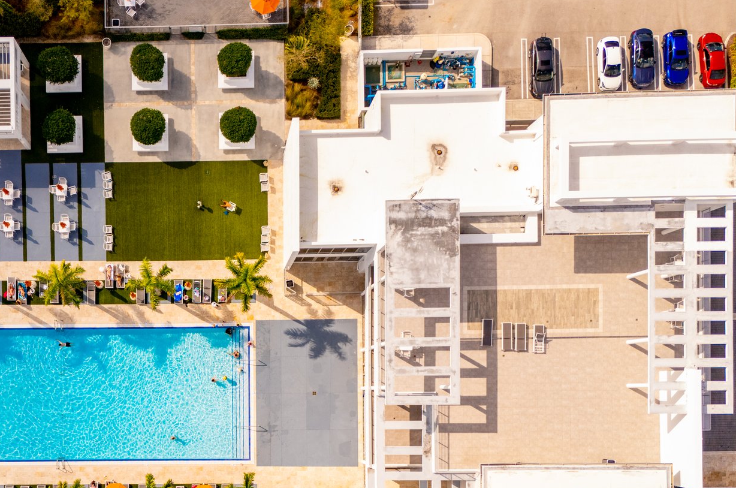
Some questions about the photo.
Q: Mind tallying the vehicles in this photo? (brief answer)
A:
5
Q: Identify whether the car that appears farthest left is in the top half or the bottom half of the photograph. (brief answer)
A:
top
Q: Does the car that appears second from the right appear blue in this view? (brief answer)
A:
Yes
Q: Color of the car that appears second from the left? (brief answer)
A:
white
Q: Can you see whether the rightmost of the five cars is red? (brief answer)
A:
Yes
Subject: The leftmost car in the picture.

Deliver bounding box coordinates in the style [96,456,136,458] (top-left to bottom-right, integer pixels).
[529,31,558,98]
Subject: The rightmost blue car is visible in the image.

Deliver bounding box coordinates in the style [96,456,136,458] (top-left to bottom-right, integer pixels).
[661,29,692,88]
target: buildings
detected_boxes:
[285,88,736,488]
[0,36,31,148]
